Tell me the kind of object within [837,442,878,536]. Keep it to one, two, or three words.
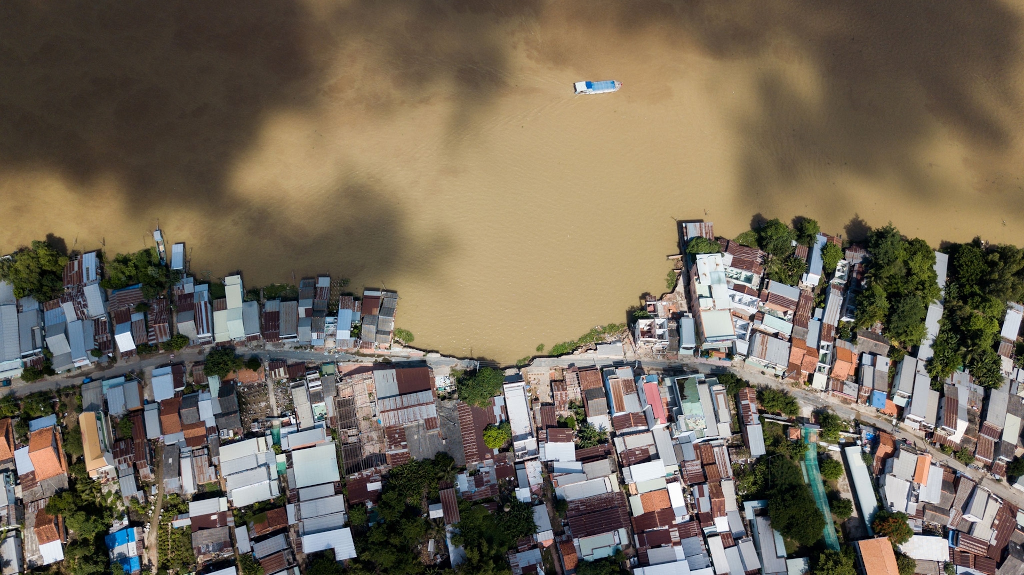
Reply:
building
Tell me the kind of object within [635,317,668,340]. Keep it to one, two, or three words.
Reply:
house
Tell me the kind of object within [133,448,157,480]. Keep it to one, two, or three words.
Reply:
house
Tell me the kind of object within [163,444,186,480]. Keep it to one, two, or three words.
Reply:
shed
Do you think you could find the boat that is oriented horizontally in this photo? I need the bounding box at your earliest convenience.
[574,80,623,95]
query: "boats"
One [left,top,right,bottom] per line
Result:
[574,80,623,95]
[154,220,167,264]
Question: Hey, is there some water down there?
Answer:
Yes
